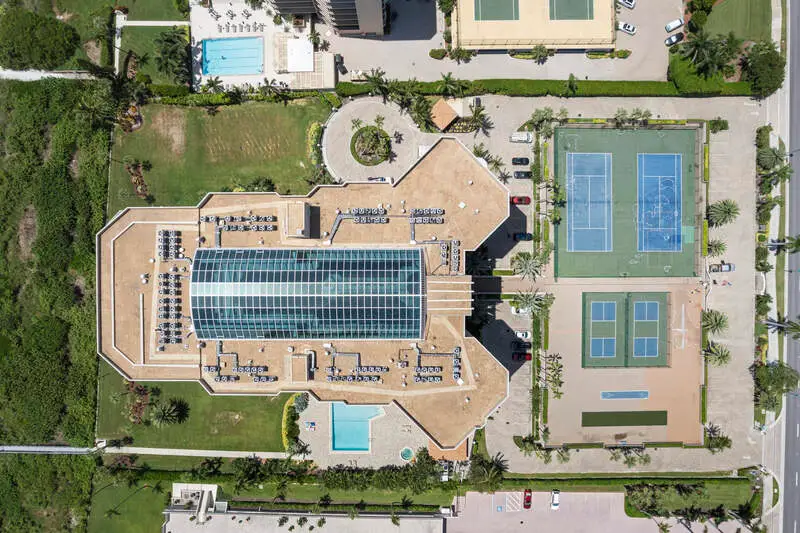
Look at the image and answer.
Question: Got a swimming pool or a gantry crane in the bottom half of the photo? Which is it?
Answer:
swimming pool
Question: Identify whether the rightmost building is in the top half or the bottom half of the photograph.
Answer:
top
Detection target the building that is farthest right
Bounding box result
[452,0,616,53]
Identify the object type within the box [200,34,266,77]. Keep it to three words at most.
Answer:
swimming pool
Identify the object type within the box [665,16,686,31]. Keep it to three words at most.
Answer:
car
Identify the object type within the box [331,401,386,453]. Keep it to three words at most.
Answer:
swimming pool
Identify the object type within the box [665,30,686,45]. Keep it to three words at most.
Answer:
car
